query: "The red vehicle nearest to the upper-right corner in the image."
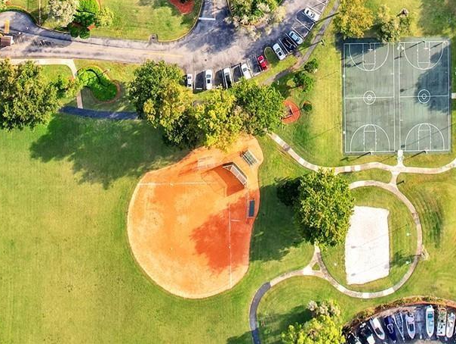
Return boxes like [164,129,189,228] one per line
[255,52,271,73]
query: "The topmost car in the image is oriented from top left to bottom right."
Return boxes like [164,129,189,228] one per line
[304,6,321,21]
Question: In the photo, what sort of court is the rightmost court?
basketball court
